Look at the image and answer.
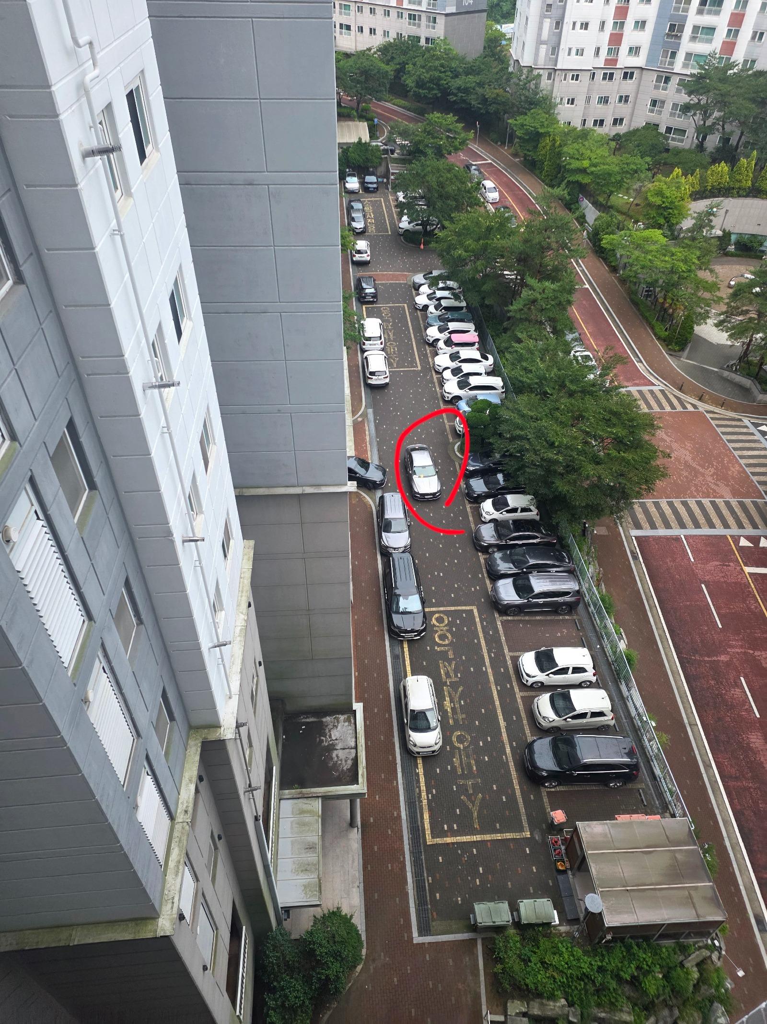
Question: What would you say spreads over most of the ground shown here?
buildings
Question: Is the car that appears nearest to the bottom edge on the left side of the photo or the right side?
right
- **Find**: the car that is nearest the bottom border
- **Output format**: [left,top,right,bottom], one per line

[526,730,636,787]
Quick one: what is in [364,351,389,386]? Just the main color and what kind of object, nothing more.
white car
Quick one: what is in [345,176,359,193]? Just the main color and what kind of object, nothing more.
white car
